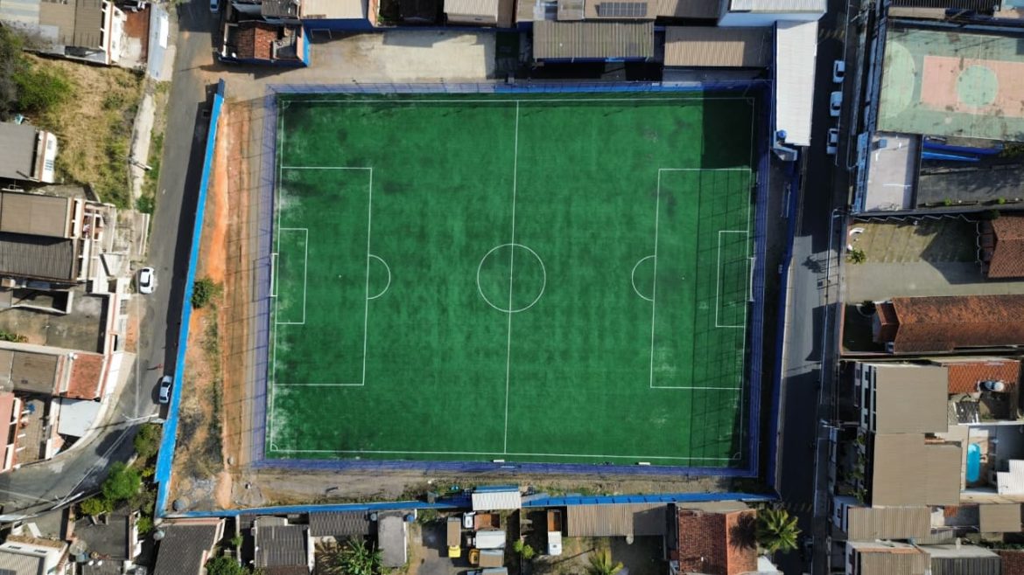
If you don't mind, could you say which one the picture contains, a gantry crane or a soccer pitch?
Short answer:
soccer pitch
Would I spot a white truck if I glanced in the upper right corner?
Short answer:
No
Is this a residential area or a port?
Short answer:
residential area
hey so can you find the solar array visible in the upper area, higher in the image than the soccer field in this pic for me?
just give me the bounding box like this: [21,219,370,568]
[599,2,648,16]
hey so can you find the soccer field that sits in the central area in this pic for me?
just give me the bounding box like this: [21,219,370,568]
[266,90,760,467]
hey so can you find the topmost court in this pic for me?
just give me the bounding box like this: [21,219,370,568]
[878,26,1024,143]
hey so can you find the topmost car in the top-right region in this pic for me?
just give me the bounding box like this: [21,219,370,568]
[833,58,848,82]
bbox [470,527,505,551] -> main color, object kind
white truck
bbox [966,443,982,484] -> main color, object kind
blue swimming pool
